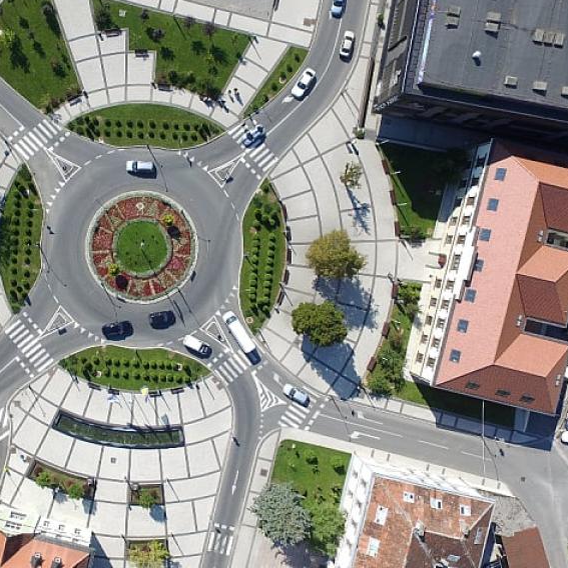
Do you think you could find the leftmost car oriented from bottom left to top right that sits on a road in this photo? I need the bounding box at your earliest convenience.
[240,124,267,147]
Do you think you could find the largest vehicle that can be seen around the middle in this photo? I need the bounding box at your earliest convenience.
[219,308,261,358]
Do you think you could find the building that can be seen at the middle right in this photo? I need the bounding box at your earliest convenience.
[404,137,568,417]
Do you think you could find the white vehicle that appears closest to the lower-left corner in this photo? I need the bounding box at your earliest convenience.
[181,334,210,357]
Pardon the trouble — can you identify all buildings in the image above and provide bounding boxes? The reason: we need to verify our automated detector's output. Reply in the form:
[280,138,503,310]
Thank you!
[374,0,568,141]
[0,508,92,568]
[496,524,550,568]
[404,137,568,417]
[321,455,495,568]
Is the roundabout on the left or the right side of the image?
left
